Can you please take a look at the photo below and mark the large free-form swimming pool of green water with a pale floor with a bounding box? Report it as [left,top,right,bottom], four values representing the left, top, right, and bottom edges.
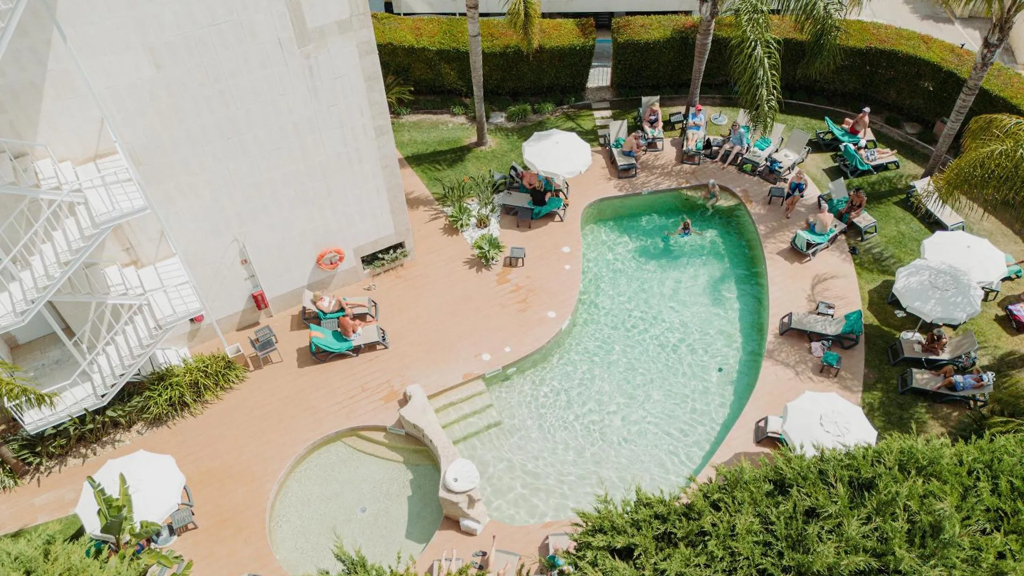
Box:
[428,182,772,529]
